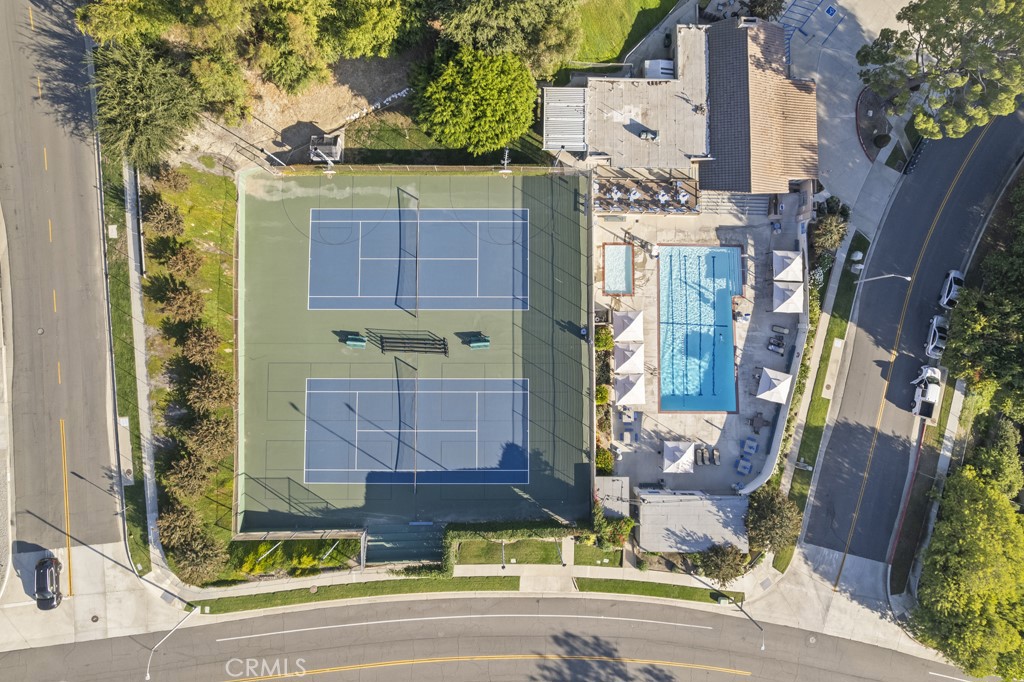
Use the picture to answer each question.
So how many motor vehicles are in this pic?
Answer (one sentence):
I count 4 motor vehicles.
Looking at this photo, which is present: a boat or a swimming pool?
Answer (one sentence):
It is a swimming pool that can be seen here.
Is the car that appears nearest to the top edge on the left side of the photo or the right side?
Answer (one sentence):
The car that appears nearest to the top edge appears in the right half of the scene.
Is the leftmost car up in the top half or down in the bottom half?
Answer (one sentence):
Seen from above, the leftmost car lies in the bottom half of the view.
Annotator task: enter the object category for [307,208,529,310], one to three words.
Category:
tennis court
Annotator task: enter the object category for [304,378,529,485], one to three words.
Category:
tennis court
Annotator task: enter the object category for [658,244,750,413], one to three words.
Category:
swimming pool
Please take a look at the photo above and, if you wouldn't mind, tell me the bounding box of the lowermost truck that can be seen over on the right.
[910,365,943,421]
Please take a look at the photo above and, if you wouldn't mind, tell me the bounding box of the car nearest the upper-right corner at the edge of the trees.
[934,267,965,312]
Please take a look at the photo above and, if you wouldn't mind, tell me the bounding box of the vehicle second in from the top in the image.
[921,314,950,359]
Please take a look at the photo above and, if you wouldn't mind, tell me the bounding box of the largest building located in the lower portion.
[635,489,748,552]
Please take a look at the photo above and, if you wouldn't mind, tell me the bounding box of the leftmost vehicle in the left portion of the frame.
[35,558,64,608]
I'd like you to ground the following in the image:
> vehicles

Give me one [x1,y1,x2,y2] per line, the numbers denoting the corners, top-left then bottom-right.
[921,314,950,359]
[35,558,64,608]
[910,365,943,421]
[934,267,965,312]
